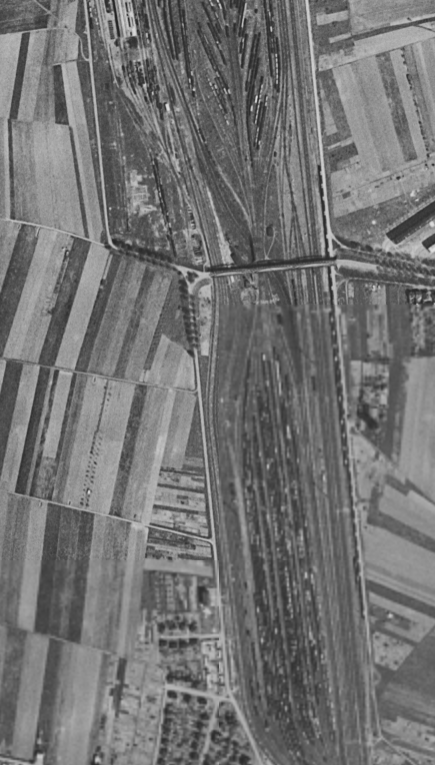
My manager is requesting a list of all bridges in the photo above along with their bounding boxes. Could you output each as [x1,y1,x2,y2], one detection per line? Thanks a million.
[207,258,339,277]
